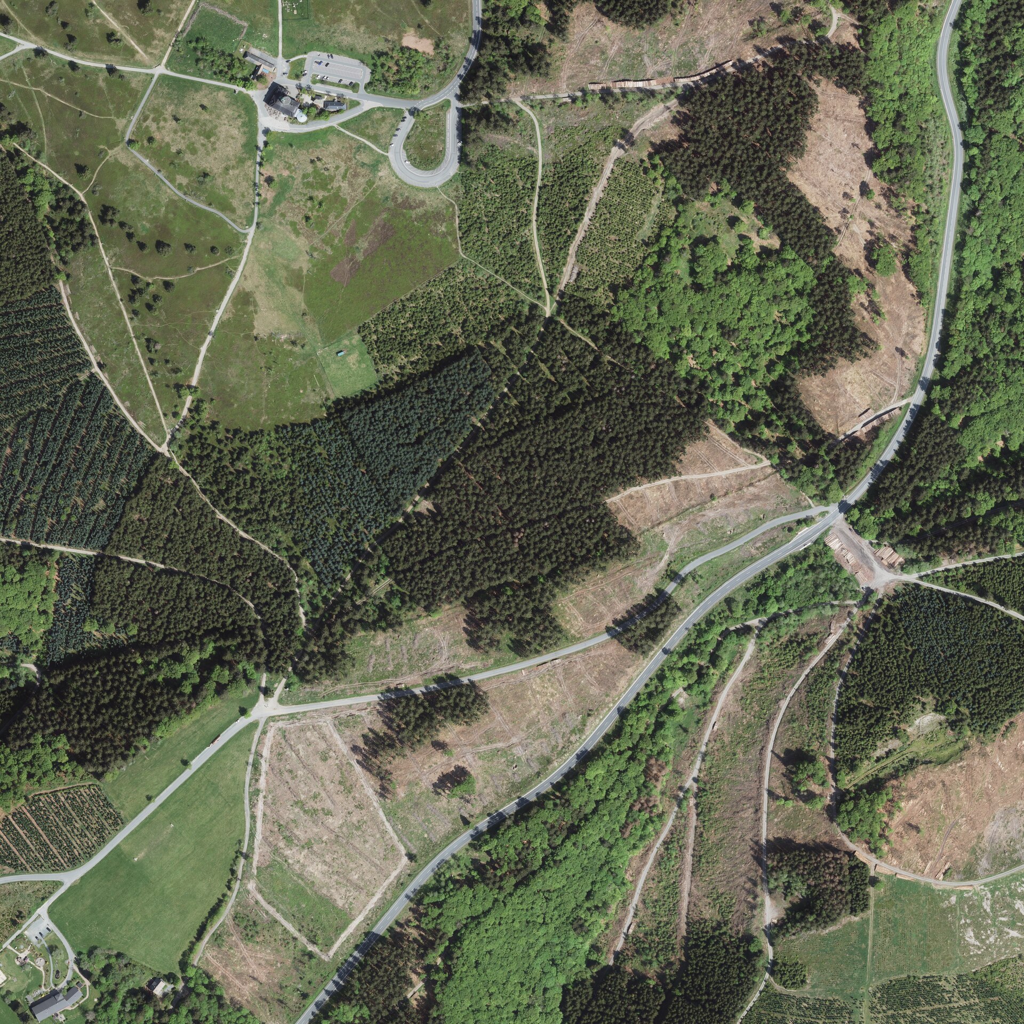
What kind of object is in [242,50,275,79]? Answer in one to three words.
barn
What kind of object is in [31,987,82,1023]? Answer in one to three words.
building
